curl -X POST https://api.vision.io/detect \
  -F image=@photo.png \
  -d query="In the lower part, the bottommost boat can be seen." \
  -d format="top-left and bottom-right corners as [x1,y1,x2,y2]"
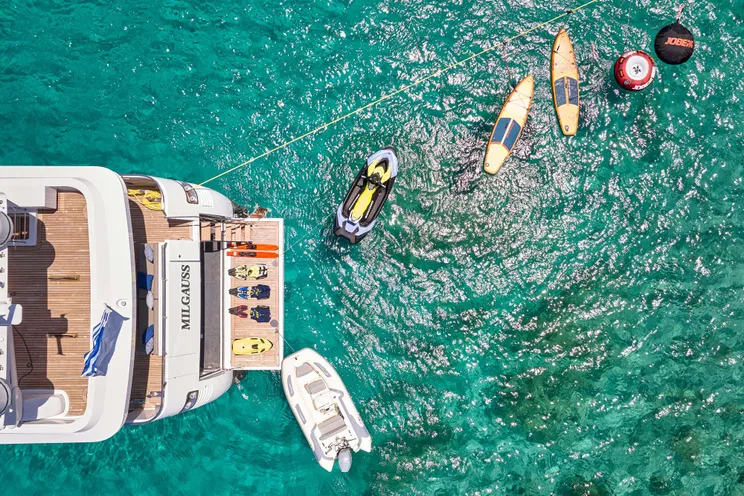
[279,351,373,474]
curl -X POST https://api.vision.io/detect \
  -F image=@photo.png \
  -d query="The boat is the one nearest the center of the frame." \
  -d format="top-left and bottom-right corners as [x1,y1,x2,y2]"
[333,149,397,244]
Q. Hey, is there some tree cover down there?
No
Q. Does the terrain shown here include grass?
No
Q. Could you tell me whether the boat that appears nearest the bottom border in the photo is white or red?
white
